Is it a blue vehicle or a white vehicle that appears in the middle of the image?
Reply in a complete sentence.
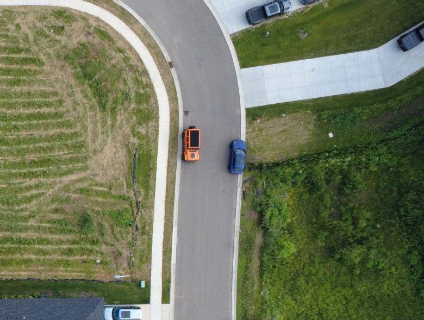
Looking in the middle of the image, you will find a blue vehicle.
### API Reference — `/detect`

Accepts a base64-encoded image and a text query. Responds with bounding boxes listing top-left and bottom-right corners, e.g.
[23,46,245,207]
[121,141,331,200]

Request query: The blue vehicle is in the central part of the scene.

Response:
[225,141,246,174]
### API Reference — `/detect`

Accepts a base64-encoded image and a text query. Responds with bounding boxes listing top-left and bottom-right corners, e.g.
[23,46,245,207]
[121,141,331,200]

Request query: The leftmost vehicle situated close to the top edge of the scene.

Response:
[243,1,287,26]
